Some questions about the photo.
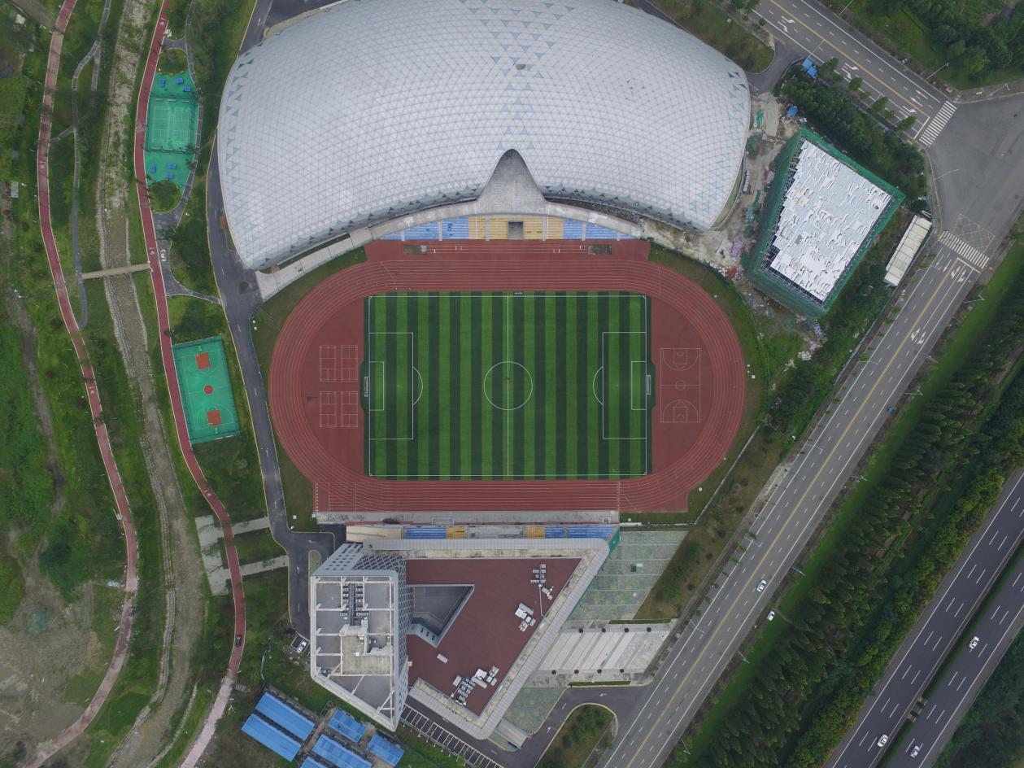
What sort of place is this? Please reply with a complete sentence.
What you see here is a sports ground.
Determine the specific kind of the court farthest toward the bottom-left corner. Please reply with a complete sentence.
Specifically, the court farthest toward the bottom-left corner is a basketball court.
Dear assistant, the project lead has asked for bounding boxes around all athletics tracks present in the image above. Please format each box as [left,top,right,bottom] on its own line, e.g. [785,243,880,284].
[269,240,746,512]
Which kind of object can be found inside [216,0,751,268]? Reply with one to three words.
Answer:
stadium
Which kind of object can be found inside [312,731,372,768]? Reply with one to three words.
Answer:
shed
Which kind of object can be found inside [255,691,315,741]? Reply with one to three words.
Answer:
shed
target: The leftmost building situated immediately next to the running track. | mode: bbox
[310,545,416,731]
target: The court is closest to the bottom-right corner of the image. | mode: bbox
[660,348,701,423]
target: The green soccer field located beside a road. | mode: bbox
[360,292,655,480]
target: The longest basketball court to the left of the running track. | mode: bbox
[173,336,239,444]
